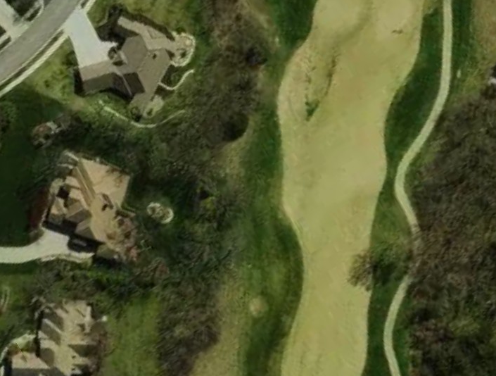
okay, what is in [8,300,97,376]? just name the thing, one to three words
house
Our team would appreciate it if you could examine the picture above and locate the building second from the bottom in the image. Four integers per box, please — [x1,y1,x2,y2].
[47,155,132,258]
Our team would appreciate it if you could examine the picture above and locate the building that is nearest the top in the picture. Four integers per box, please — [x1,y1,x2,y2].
[78,12,180,118]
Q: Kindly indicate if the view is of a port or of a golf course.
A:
golf course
